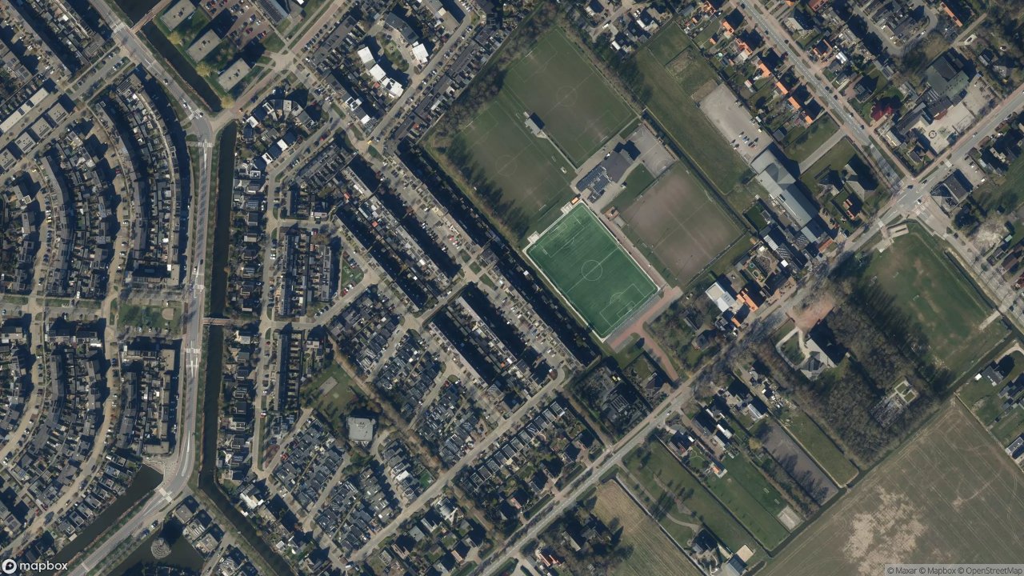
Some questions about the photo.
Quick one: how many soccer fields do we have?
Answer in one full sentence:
In total, there are 4 soccer fields in the scene.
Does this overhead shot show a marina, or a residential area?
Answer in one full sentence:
It's a residential area.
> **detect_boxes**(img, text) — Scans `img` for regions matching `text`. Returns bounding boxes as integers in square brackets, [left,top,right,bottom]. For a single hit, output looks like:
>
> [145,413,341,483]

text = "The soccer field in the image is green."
[522,199,663,342]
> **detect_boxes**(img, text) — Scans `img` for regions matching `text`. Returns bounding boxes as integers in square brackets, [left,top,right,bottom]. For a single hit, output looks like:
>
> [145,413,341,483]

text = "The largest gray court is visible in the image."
[625,123,676,177]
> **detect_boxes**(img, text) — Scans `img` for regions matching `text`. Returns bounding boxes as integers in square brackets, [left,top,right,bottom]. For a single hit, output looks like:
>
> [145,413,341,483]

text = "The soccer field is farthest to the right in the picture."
[622,162,745,283]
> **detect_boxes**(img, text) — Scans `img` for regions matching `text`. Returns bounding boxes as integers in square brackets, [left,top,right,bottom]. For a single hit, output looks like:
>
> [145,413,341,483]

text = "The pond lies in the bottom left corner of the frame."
[112,512,205,576]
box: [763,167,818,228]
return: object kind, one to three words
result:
building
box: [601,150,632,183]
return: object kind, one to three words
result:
building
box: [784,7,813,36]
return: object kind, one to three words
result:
house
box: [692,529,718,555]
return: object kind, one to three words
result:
house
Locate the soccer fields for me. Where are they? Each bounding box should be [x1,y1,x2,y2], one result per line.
[622,162,745,283]
[500,26,633,165]
[522,199,663,342]
[450,90,577,225]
